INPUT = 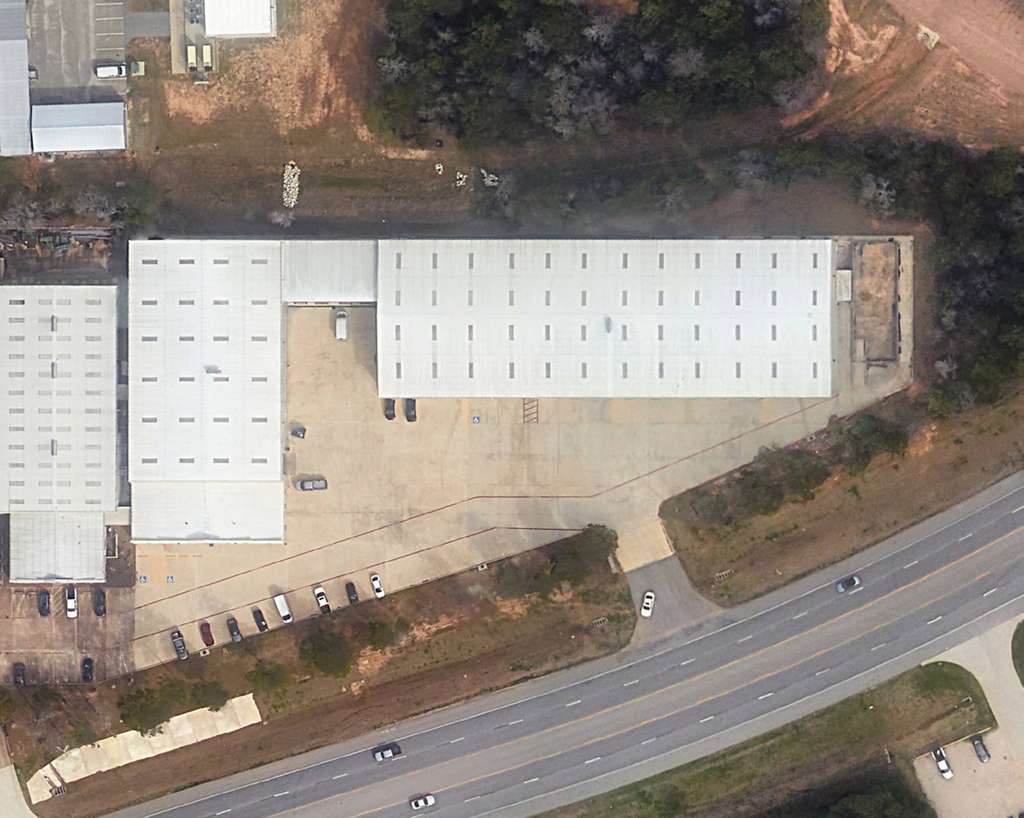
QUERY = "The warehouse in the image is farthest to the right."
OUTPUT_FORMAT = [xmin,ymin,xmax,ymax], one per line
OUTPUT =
[377,239,832,398]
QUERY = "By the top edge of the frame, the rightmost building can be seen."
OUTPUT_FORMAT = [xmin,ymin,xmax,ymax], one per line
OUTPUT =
[206,0,278,44]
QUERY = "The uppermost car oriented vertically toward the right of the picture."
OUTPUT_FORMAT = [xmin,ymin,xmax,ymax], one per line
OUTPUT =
[642,591,654,617]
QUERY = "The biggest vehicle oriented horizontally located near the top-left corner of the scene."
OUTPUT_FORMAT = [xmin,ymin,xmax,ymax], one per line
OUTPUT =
[95,65,127,78]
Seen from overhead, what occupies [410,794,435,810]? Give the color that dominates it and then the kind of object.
white car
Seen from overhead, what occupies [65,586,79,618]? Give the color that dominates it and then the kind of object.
white vehicle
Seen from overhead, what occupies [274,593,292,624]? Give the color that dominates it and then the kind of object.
white vehicle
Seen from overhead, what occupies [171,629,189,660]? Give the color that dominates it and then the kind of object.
gray vehicle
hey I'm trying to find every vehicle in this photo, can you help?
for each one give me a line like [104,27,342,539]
[836,575,861,593]
[315,585,332,614]
[186,44,199,73]
[410,794,435,810]
[405,398,416,422]
[384,398,396,420]
[201,43,214,72]
[82,657,94,681]
[335,312,348,340]
[372,743,402,761]
[227,618,242,642]
[370,573,385,598]
[95,591,106,616]
[973,739,989,763]
[274,593,292,624]
[65,586,79,618]
[295,479,328,491]
[38,591,51,616]
[642,591,654,617]
[171,629,189,660]
[95,65,127,78]
[932,746,952,779]
[201,622,214,646]
[252,606,268,632]
[346,581,359,604]
[13,662,25,684]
